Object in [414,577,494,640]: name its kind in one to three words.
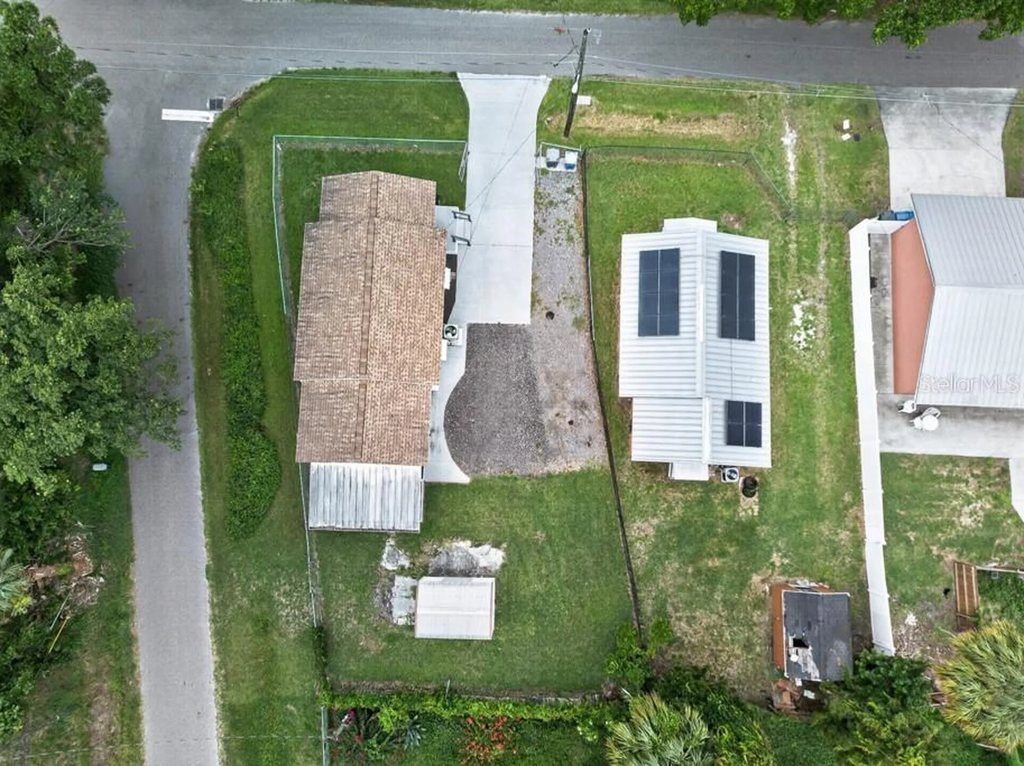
shed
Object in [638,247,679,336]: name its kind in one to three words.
solar array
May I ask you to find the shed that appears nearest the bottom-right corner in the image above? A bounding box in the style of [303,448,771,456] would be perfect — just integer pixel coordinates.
[773,585,853,682]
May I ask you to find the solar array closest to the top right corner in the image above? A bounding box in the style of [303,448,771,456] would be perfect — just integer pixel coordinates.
[721,250,756,341]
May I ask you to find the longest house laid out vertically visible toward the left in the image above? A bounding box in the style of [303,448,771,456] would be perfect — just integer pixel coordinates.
[293,170,452,534]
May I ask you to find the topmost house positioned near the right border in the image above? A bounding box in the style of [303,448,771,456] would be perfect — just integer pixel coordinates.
[893,193,1024,410]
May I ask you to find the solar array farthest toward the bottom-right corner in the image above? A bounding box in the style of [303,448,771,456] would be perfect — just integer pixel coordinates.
[728,401,763,448]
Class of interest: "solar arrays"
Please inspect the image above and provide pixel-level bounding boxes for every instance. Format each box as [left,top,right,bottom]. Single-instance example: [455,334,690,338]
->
[728,401,763,448]
[638,247,679,336]
[721,250,756,341]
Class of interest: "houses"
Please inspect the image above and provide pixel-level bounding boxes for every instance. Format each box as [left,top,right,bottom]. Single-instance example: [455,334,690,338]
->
[616,216,772,481]
[293,170,452,534]
[893,193,1024,410]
